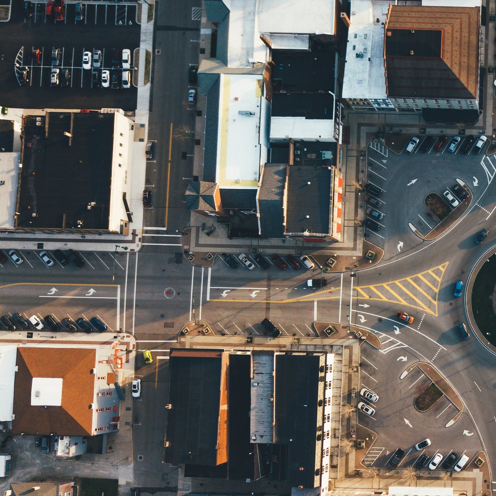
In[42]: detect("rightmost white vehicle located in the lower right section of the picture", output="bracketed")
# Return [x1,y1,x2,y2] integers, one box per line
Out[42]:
[453,451,471,475]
